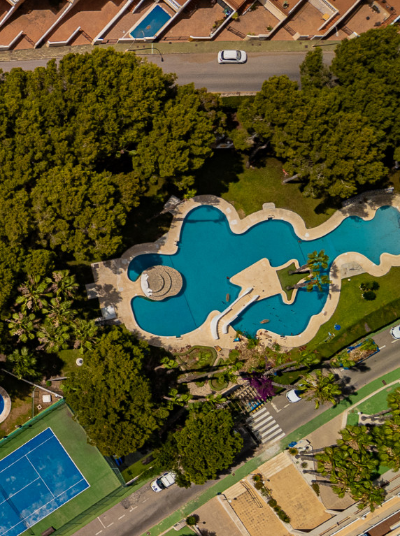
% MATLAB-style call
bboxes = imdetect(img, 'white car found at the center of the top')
[220,47,248,62]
